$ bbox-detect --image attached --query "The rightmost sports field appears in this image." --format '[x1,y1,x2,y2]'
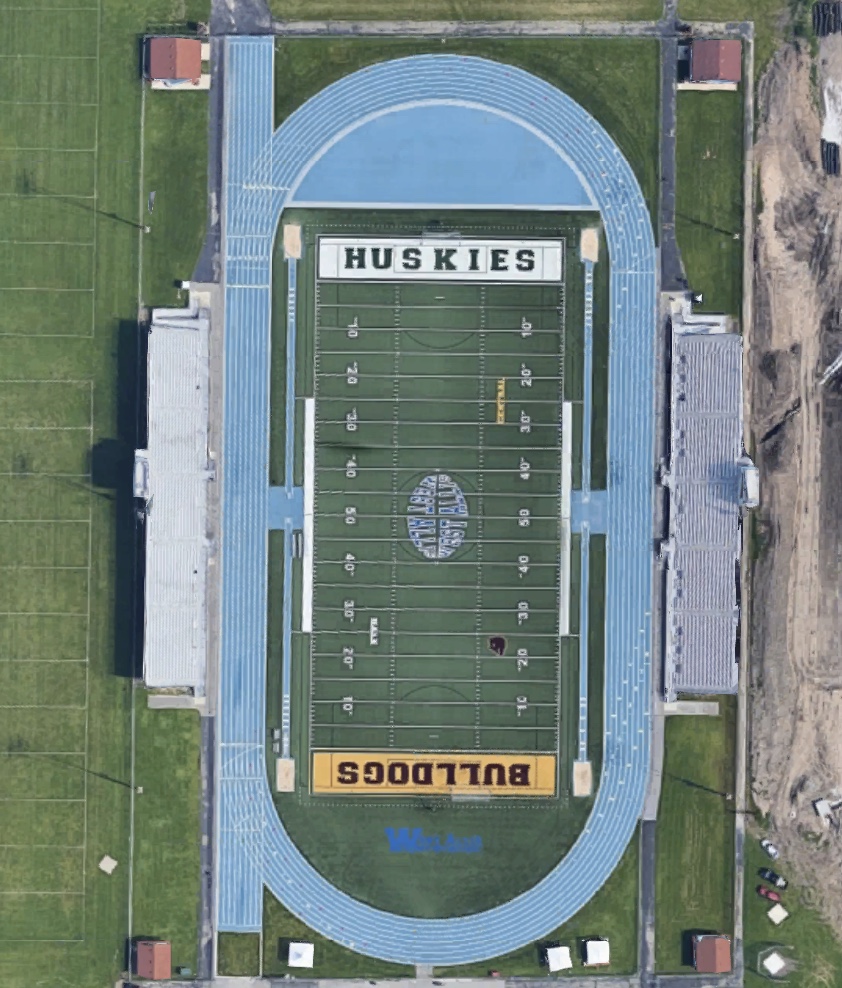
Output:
[266,208,609,918]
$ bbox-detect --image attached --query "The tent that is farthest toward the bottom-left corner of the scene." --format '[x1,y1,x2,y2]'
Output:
[289,938,314,967]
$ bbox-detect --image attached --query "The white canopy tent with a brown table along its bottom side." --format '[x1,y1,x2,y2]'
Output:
[584,937,609,964]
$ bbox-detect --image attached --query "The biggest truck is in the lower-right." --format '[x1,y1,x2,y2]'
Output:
[756,866,791,894]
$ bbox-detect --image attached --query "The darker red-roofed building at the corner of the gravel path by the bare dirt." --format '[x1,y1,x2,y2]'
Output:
[692,38,742,83]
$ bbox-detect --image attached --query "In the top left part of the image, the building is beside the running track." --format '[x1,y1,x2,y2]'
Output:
[150,36,202,81]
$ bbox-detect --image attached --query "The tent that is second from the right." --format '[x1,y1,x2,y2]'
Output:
[545,942,570,971]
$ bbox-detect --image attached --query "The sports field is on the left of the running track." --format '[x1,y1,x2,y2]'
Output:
[0,0,210,988]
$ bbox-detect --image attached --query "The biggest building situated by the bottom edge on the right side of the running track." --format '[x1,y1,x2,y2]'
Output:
[695,935,732,975]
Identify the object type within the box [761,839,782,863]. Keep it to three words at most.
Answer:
car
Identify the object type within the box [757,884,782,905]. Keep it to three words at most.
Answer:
car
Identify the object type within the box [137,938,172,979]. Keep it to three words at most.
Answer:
building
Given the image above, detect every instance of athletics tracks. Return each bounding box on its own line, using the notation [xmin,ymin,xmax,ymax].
[218,37,656,965]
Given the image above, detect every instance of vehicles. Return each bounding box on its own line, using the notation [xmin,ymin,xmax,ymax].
[757,884,782,905]
[756,866,791,894]
[761,839,782,863]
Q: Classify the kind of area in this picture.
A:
sports ground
